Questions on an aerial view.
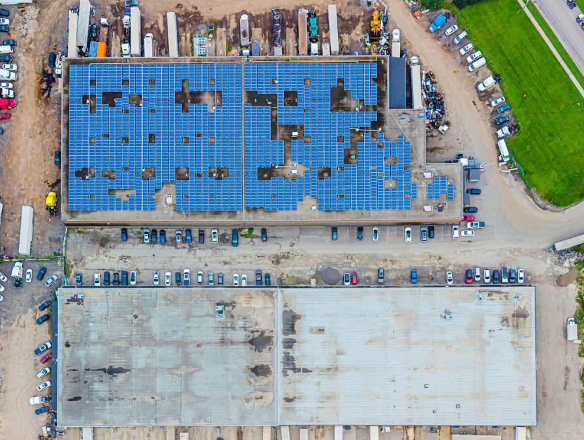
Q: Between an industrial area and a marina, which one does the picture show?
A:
industrial area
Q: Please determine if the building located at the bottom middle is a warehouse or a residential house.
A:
warehouse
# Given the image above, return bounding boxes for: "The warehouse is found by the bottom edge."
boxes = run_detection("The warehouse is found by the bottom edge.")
[52,283,537,428]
